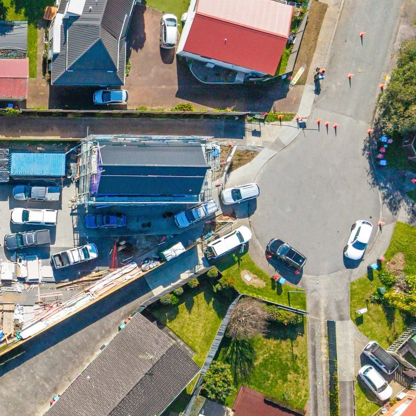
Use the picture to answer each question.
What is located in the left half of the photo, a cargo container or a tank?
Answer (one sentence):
You can see a cargo container in the left half of the photo.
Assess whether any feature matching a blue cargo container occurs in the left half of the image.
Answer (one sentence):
Yes, in the left half of the image there is a blue cargo container.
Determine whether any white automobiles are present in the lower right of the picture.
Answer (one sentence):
Yes, in the lower right of the picture there is a white automobile.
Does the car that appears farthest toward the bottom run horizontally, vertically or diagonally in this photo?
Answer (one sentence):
I'd say the car that appears farthest toward the bottom is aligned diagonally in the picture.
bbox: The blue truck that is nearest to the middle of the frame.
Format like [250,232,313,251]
[171,196,222,229]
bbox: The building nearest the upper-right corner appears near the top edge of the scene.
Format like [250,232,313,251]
[177,0,295,79]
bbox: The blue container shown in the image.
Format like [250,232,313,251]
[7,153,67,178]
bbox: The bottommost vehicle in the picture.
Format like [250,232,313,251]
[357,363,395,402]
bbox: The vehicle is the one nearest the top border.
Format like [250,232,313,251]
[158,13,180,49]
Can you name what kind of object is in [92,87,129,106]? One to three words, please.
car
